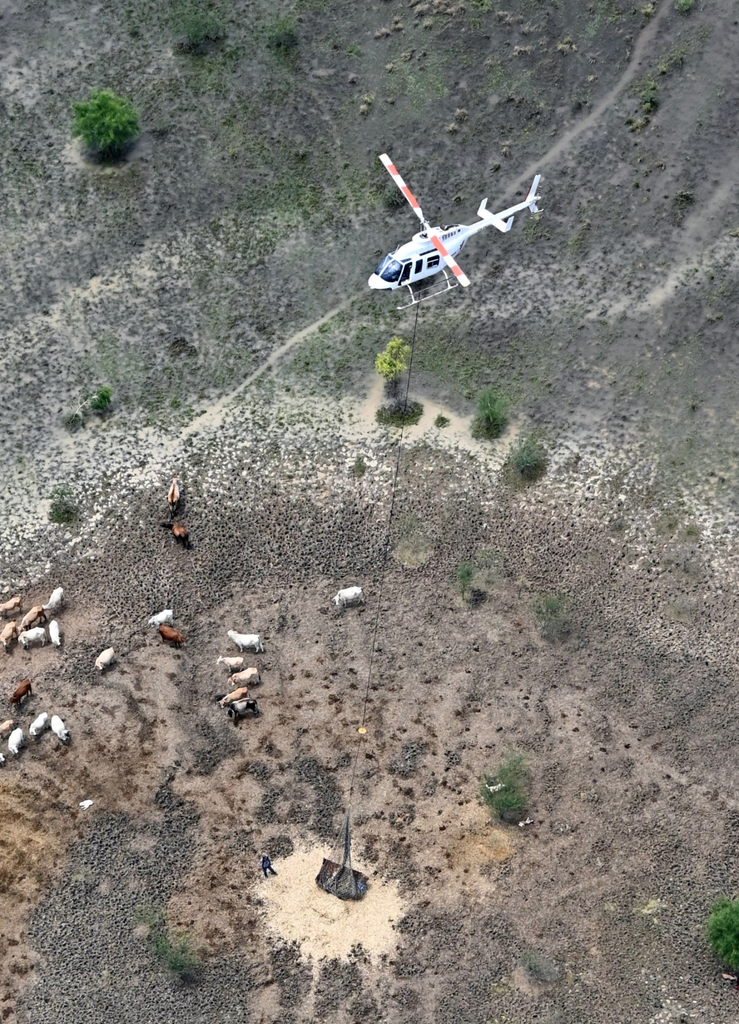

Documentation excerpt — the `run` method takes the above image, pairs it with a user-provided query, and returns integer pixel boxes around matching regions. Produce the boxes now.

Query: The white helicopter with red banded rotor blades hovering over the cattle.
[366,154,543,309]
